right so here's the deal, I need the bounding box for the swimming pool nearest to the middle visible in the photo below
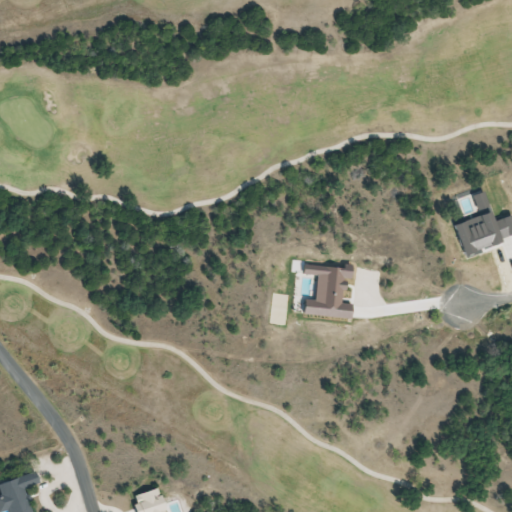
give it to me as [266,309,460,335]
[294,274,316,312]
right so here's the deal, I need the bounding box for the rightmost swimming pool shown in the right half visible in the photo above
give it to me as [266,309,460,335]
[458,194,475,216]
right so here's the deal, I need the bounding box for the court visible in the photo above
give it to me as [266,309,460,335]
[270,293,289,326]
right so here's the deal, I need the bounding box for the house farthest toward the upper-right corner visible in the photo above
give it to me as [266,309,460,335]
[455,194,512,258]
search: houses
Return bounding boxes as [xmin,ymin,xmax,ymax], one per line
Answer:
[304,264,354,319]
[455,194,512,258]
[0,472,40,512]
[135,488,170,512]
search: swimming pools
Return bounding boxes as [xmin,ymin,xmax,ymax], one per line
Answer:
[168,500,184,512]
[294,274,316,312]
[458,194,475,216]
